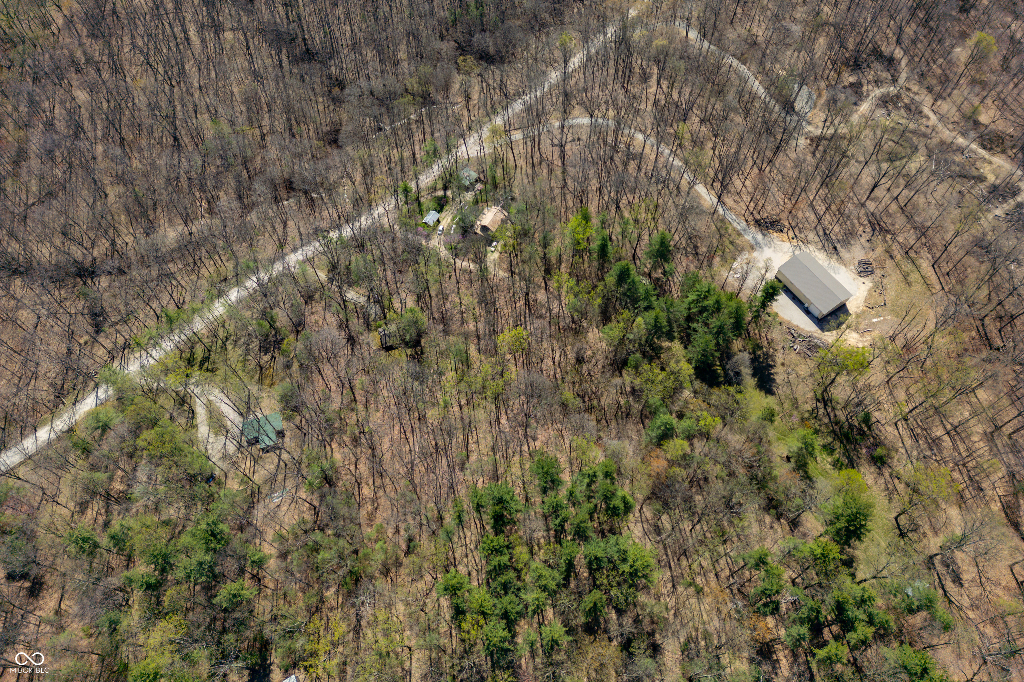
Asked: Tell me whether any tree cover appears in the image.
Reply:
Yes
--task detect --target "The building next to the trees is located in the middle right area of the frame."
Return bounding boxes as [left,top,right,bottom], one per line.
[775,251,853,320]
